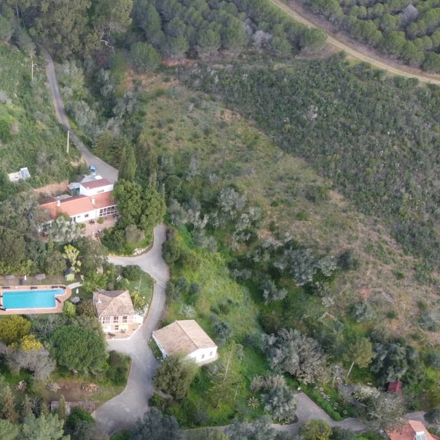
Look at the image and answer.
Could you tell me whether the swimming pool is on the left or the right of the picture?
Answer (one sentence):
It is on the left.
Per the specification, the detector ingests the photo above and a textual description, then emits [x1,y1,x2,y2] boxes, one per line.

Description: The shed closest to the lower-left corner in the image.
[51,399,95,420]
